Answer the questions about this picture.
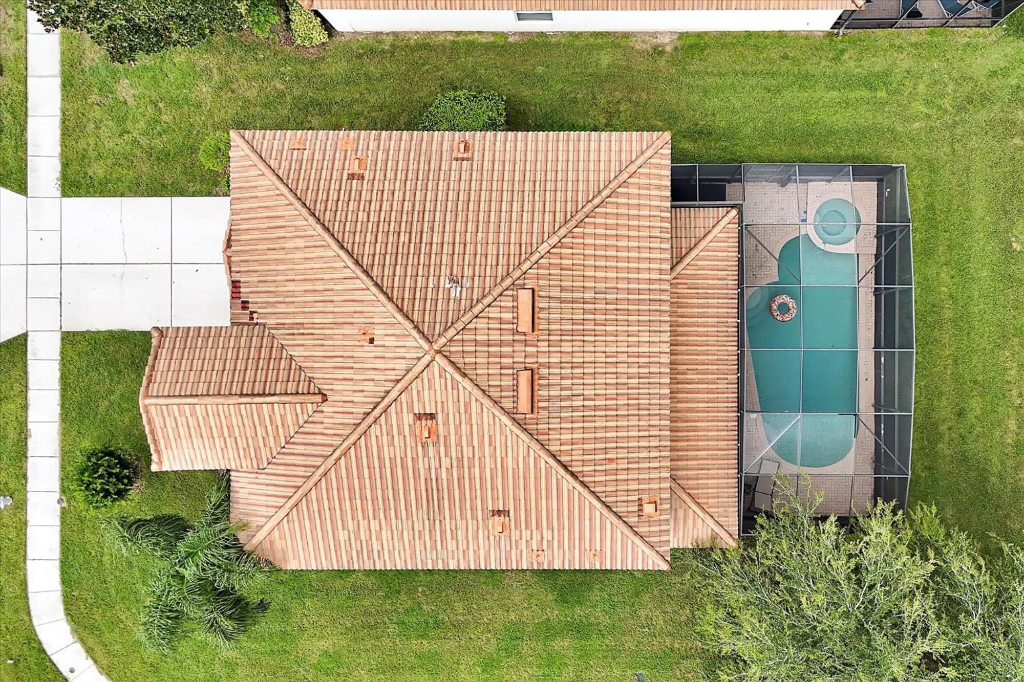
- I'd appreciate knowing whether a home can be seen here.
Yes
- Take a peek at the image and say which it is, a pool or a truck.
pool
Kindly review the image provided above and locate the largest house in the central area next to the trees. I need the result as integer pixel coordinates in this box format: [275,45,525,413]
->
[137,128,739,573]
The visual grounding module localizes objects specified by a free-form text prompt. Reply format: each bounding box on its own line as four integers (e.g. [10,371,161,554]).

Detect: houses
[292,0,871,38]
[137,128,739,573]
